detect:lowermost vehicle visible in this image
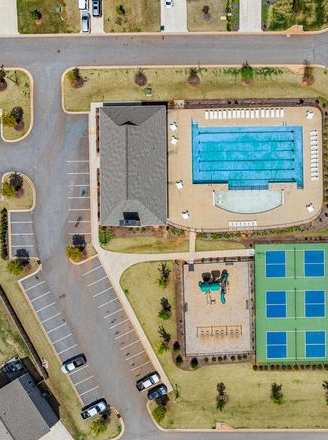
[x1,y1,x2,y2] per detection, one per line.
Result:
[82,399,108,418]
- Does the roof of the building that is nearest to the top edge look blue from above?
No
